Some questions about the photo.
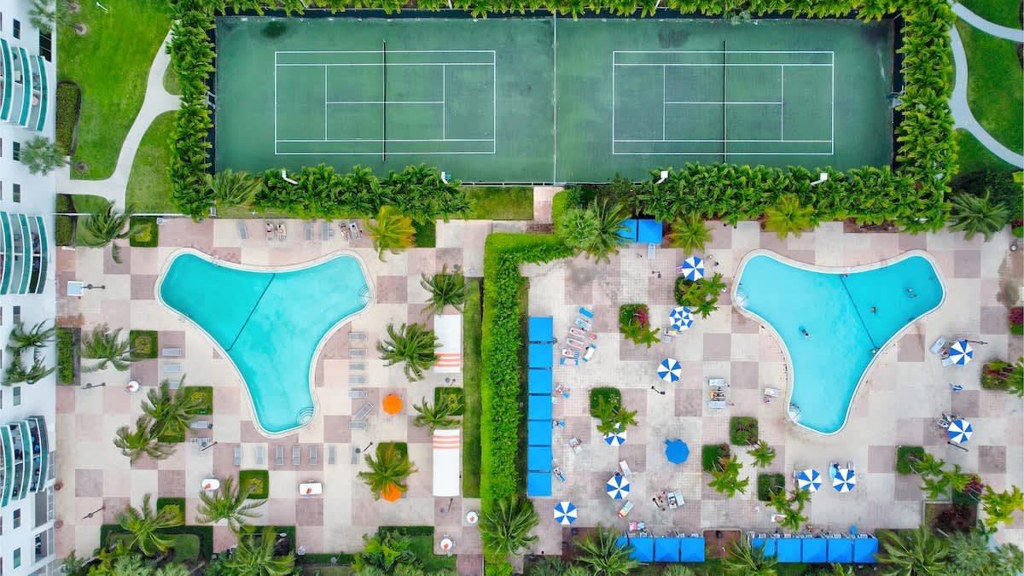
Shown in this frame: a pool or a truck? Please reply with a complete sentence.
Visible in the photo is a pool.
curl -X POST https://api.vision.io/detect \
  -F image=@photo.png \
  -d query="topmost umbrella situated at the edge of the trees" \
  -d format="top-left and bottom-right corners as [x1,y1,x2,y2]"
[680,256,704,280]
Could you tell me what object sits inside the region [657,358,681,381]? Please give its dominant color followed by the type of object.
white umbrella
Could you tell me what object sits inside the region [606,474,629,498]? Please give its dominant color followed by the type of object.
white umbrella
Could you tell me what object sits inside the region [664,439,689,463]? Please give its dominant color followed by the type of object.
blue umbrella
